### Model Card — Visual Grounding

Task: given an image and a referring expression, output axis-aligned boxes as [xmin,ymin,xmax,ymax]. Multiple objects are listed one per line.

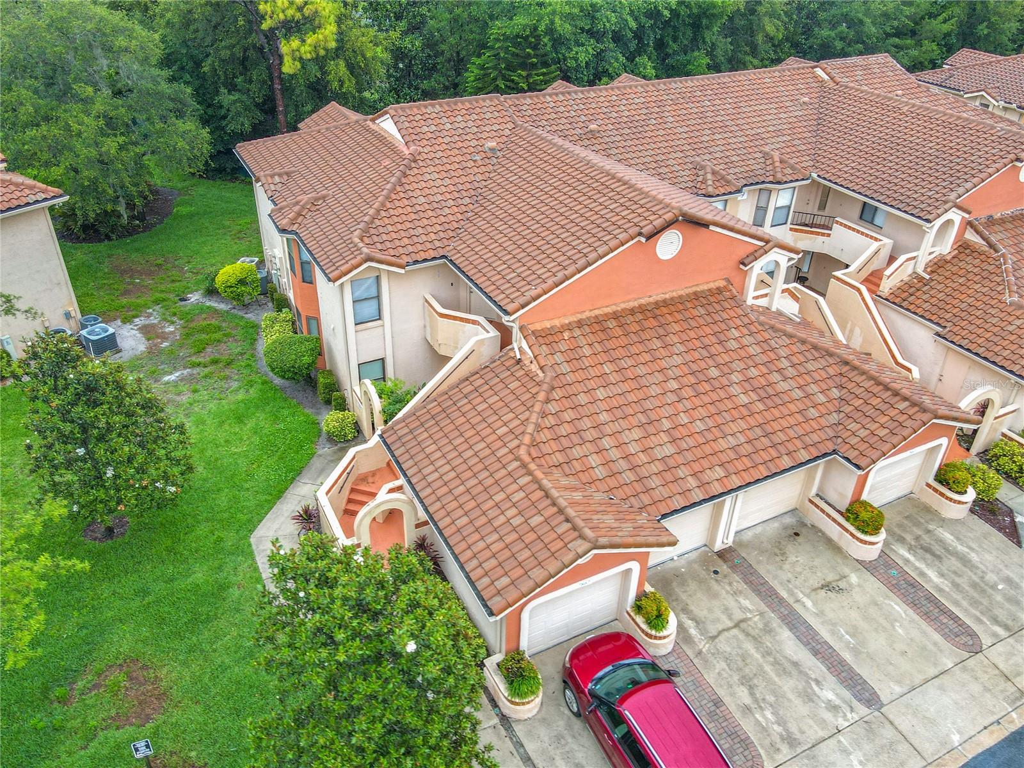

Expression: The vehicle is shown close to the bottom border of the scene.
[559,629,745,768]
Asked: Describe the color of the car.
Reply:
red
